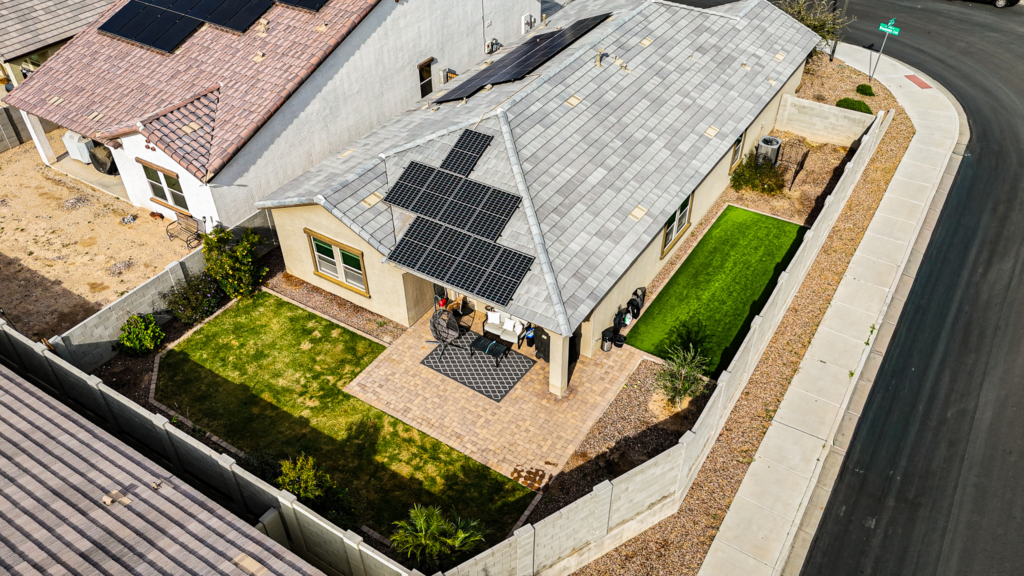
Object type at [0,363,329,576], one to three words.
house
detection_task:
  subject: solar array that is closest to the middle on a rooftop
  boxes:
[382,130,535,309]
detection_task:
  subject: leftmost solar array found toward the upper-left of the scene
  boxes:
[95,0,328,51]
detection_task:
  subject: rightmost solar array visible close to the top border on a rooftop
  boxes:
[429,9,617,104]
